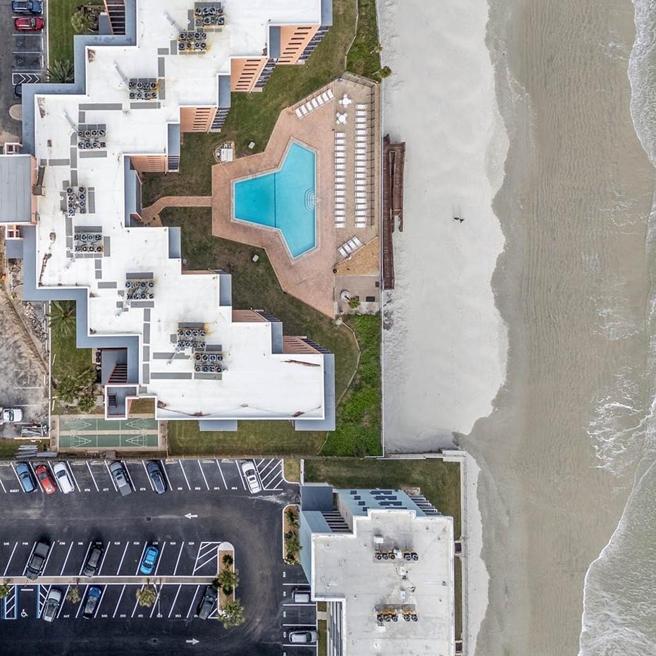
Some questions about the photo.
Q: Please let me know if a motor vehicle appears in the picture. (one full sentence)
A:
Yes, you can see a motor vehicle in this photo.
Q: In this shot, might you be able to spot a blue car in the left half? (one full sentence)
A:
Yes, you'll find a blue car in the left half.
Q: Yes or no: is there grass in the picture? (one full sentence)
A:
Yes, some grass is visible.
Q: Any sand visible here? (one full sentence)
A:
Yes, some sand is visible.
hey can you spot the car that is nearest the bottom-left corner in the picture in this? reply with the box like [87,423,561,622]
[42,586,64,624]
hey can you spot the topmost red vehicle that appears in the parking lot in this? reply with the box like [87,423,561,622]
[15,17,45,31]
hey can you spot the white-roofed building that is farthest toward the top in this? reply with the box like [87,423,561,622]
[0,0,335,430]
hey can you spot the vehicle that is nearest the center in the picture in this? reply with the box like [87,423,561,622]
[241,459,262,495]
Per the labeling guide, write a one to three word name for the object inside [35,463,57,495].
car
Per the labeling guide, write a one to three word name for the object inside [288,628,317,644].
car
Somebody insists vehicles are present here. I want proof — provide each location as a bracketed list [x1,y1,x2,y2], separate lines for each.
[109,460,133,499]
[292,588,318,604]
[35,463,57,495]
[141,544,158,573]
[195,583,218,623]
[53,460,75,495]
[18,461,35,492]
[15,85,21,97]
[84,544,103,577]
[15,17,45,31]
[0,407,23,424]
[288,628,317,644]
[80,583,100,621]
[241,459,262,495]
[146,461,166,495]
[12,0,43,14]
[42,586,64,624]
[28,539,51,580]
